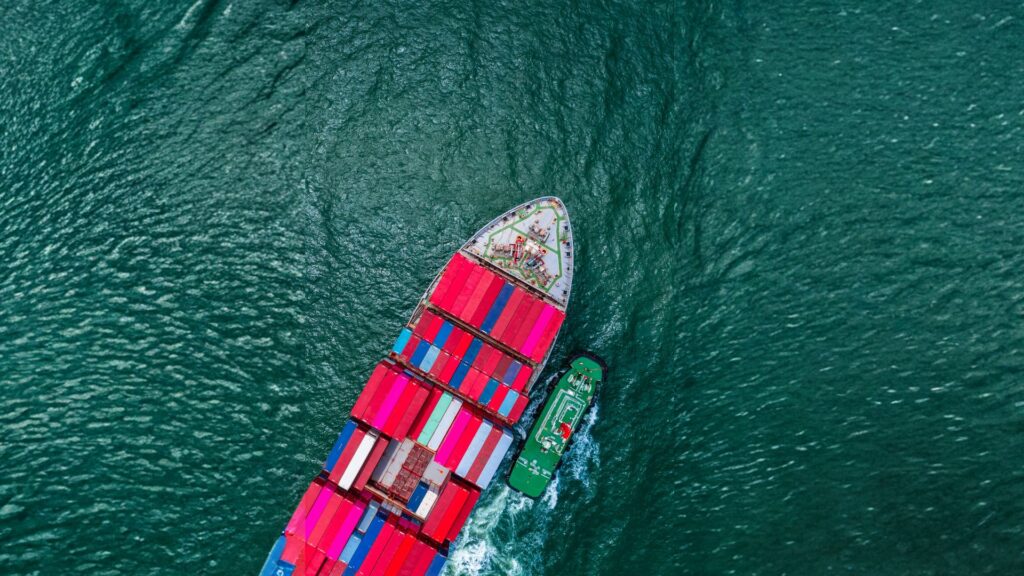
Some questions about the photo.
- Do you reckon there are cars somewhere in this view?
No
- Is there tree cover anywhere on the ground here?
No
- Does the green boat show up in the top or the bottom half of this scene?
bottom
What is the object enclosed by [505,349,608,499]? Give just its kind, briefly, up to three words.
boat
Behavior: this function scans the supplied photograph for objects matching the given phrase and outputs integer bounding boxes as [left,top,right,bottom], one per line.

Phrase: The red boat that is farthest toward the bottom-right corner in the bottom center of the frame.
[556,423,569,437]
